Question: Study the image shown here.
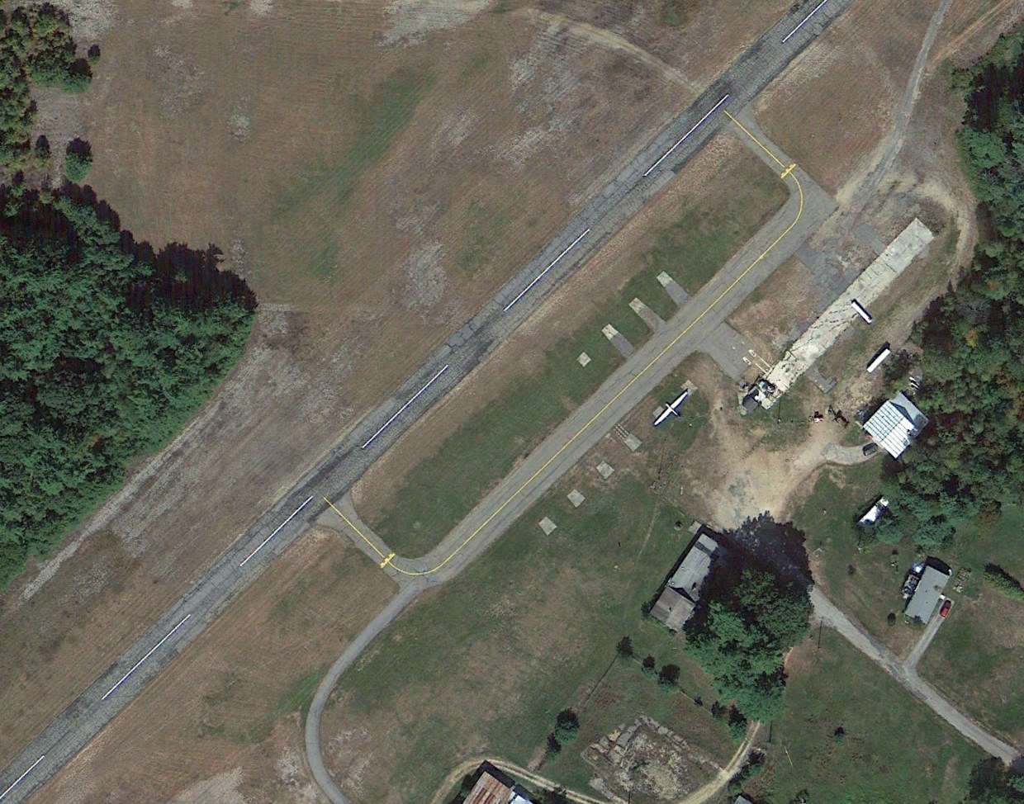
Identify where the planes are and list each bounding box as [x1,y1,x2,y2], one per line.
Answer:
[655,391,687,426]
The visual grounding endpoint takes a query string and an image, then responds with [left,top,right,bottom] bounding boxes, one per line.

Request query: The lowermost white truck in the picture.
[857,500,889,525]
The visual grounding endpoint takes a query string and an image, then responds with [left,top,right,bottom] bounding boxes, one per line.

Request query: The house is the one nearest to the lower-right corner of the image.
[906,564,951,624]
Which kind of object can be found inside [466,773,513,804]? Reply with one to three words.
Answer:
barn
